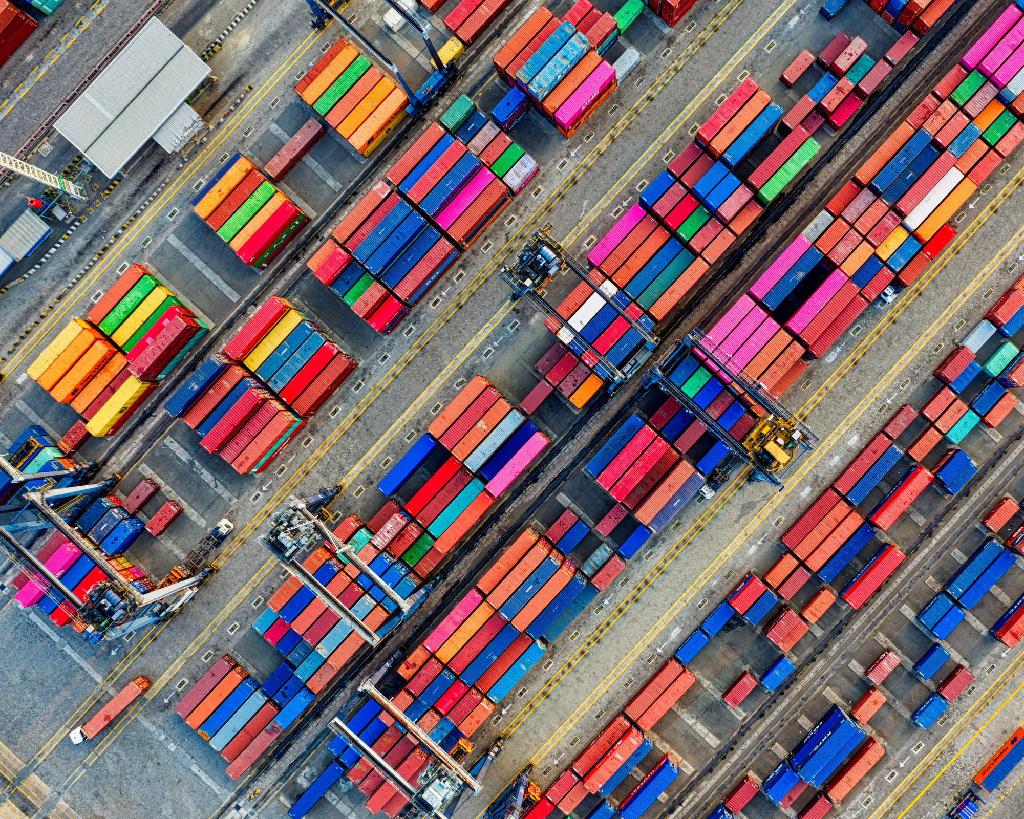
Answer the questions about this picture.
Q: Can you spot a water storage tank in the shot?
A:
Yes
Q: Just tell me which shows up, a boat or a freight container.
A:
freight container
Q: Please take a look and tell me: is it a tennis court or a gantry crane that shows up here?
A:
gantry crane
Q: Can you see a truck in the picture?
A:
Yes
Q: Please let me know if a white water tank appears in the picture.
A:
No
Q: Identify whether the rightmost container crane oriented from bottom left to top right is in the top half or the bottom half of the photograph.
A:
bottom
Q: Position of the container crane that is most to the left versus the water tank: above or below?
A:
below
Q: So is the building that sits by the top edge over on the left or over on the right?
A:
left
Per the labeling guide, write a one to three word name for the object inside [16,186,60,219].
water tank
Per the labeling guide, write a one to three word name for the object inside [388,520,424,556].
shipping container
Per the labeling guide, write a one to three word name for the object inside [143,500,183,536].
shipping container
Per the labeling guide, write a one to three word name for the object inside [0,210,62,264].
shed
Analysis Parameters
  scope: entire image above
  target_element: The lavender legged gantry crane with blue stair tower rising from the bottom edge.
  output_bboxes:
[478,752,545,819]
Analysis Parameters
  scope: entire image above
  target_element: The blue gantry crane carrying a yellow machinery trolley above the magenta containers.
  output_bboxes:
[633,324,818,490]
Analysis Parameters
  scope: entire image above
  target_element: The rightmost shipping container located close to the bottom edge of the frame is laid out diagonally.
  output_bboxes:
[972,725,1024,790]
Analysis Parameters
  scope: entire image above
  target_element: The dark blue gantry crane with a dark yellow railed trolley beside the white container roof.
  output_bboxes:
[494,219,670,402]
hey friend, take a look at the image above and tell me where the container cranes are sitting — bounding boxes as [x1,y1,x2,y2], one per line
[328,635,516,819]
[301,0,464,127]
[0,447,111,520]
[633,324,818,490]
[478,752,545,819]
[0,462,227,645]
[494,219,670,402]
[248,474,450,652]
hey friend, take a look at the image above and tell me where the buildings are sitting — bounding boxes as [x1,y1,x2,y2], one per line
[50,205,73,224]
[0,210,62,264]
[53,16,220,181]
